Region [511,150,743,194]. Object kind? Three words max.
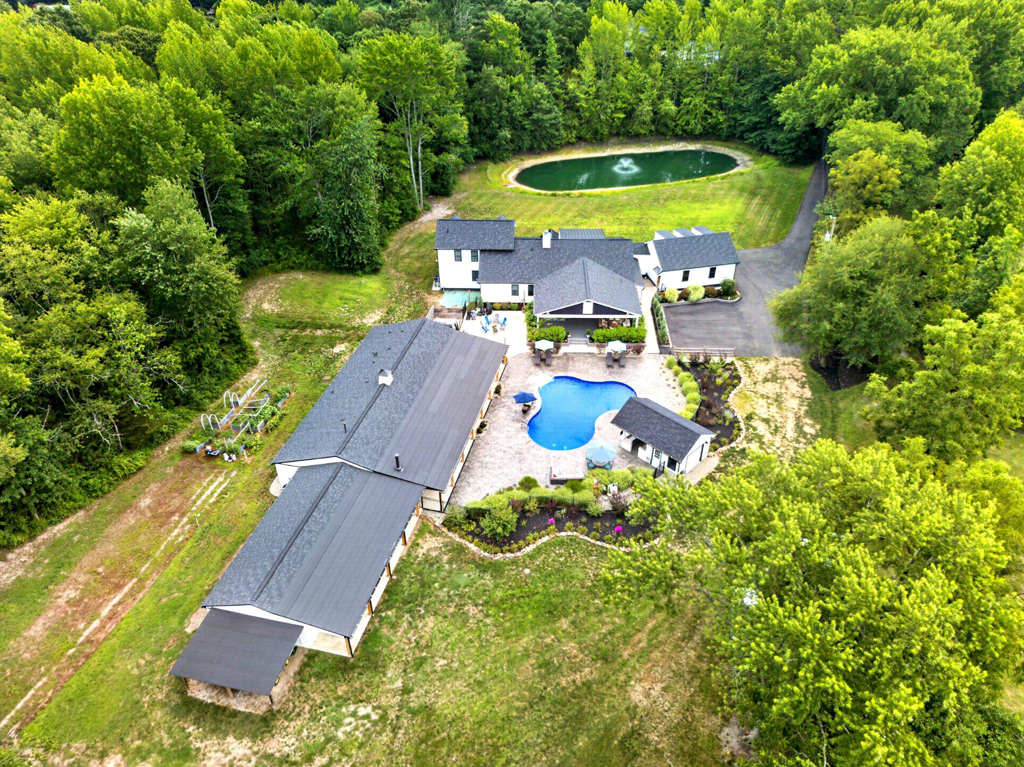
pond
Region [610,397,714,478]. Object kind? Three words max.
building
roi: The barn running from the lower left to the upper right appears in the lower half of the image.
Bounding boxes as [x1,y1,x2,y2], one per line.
[167,317,510,712]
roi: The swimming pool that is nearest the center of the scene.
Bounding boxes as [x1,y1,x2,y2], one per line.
[520,371,641,453]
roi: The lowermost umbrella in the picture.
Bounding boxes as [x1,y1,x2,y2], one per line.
[586,439,620,463]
